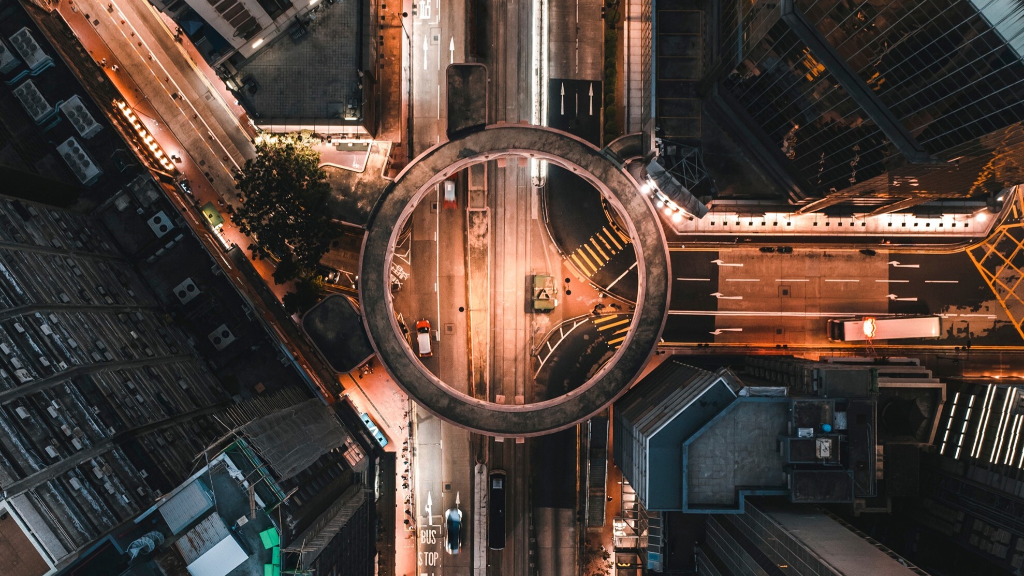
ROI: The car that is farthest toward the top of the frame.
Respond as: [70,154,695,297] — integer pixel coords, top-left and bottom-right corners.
[442,181,457,211]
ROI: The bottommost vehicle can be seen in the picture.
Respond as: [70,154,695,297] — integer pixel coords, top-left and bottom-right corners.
[444,510,462,553]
